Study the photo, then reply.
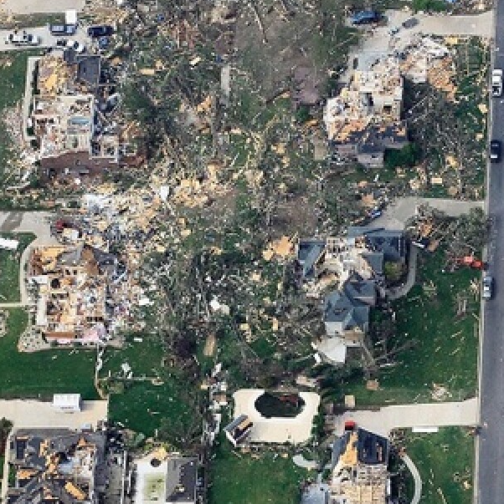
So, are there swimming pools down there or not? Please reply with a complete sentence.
Yes, a swimming pool is visible in the scene.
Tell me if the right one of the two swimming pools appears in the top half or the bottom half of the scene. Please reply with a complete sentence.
The right one of the two swimming pools is in the bottom half of the image.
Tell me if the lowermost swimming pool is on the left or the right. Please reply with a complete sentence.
You can find the lowermost swimming pool on the left side of the picture.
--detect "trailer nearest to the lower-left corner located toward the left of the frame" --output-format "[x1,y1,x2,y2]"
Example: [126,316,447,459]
[49,389,79,412]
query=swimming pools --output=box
[253,392,305,419]
[142,472,166,503]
